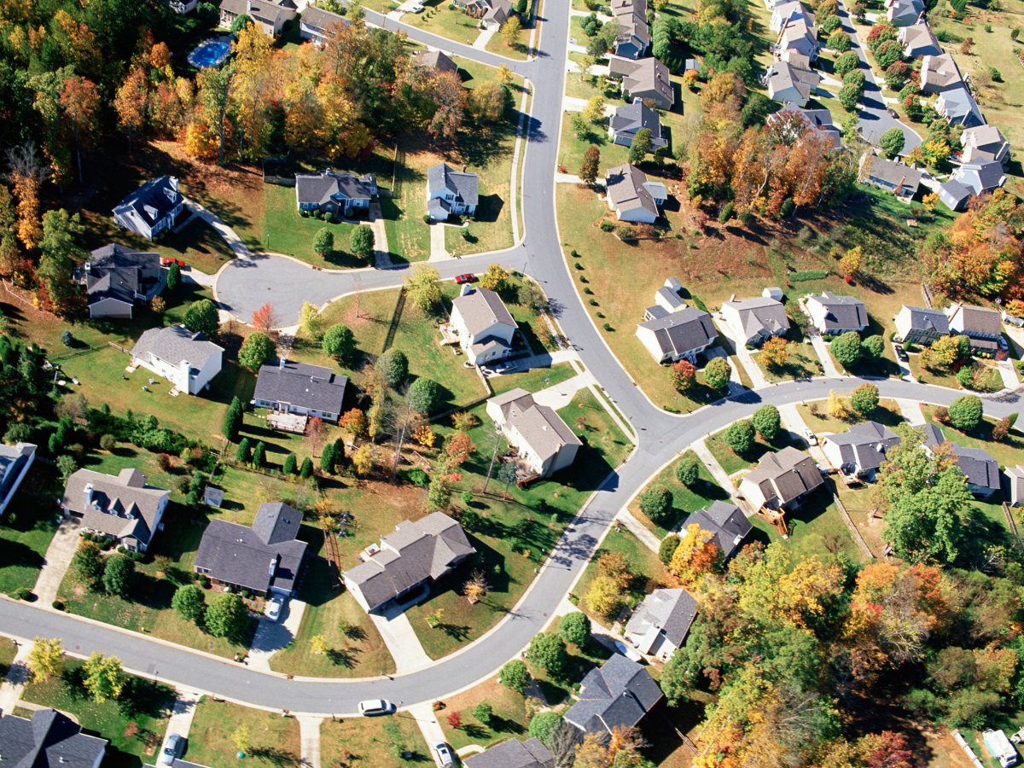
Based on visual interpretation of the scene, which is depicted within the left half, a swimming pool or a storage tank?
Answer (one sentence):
What appears within the left half is a swimming pool.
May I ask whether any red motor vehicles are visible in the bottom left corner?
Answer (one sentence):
No, the scene shows no red motor vehicle in the bottom left corner.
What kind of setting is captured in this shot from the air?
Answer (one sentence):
This looks like a residential area.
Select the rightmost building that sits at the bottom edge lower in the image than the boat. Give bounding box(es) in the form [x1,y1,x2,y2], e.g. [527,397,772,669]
[569,652,664,744]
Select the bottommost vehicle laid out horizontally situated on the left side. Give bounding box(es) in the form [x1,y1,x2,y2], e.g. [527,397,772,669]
[359,698,392,713]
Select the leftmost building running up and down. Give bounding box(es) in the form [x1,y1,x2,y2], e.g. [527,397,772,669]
[0,438,37,521]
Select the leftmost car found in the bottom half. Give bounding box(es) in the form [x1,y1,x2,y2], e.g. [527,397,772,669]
[162,733,181,762]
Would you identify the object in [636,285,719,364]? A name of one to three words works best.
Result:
house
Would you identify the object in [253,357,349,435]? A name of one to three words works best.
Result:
house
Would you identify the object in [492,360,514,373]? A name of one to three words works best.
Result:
vehicle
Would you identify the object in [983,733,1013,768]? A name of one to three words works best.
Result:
camper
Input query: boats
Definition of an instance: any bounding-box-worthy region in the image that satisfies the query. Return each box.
[617,638,644,661]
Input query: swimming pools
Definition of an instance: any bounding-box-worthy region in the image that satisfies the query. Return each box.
[187,35,234,67]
